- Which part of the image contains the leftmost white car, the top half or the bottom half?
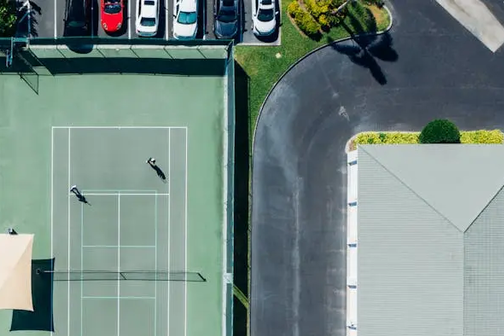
top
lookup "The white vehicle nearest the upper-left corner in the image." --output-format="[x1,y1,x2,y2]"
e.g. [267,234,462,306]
[135,0,159,38]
